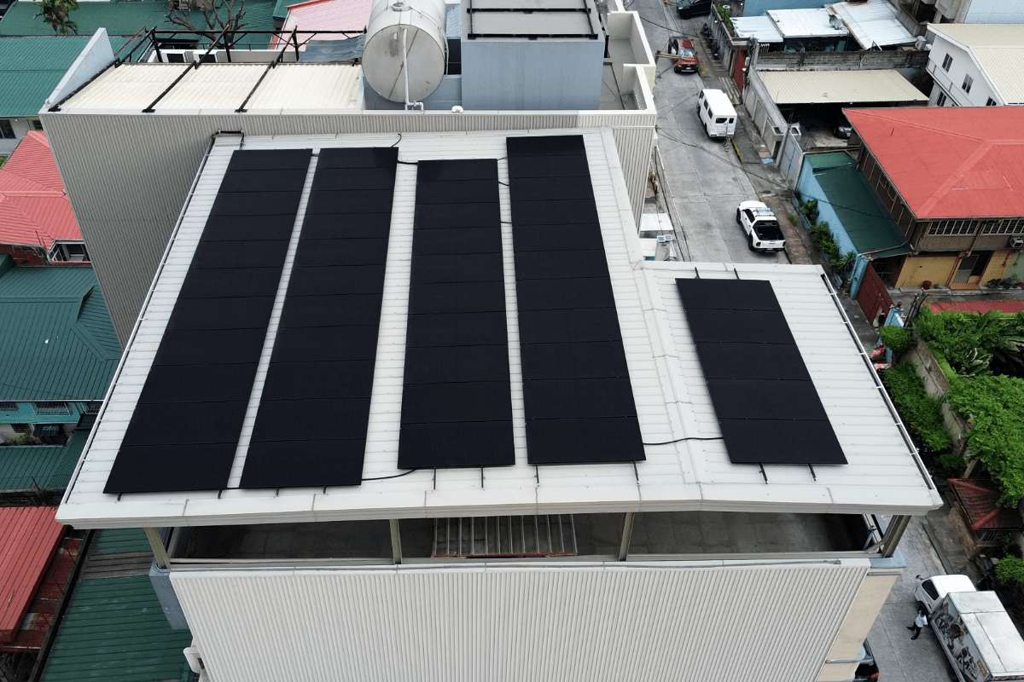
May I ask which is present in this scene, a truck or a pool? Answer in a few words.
truck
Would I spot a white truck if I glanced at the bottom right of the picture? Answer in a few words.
Yes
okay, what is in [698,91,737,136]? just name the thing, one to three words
van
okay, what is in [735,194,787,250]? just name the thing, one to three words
truck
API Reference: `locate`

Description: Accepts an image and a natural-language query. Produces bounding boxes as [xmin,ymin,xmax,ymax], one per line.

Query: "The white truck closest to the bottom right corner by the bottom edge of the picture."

[913,569,1024,682]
